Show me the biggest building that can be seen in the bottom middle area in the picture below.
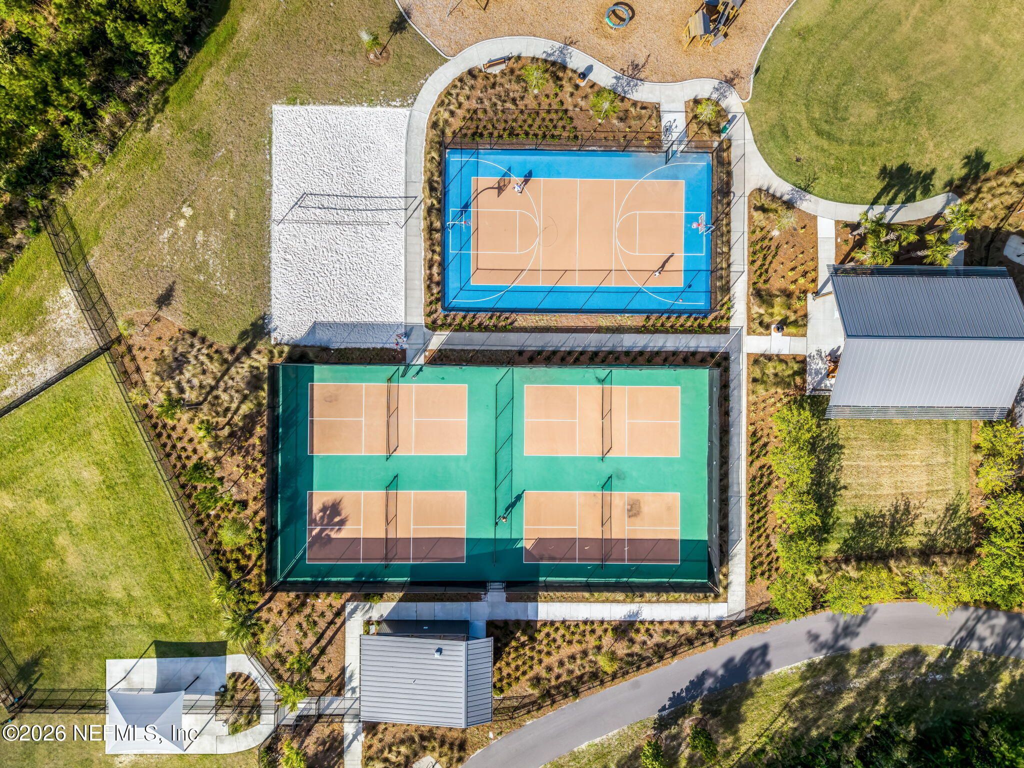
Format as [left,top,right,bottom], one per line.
[359,612,494,728]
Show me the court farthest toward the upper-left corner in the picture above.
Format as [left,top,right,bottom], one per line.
[270,104,413,349]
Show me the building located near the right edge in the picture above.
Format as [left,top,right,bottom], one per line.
[814,262,1024,425]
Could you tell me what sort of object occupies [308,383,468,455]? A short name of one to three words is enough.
sports court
